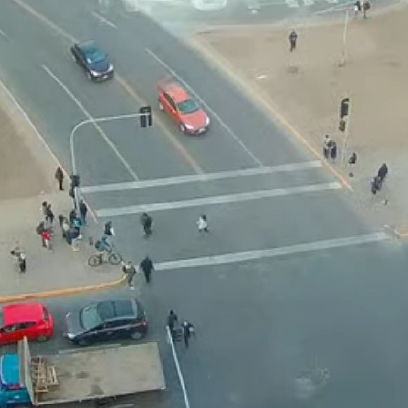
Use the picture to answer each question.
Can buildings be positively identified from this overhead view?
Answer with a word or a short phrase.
No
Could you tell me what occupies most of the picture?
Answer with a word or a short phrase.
paved ground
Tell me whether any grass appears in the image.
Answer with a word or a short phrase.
No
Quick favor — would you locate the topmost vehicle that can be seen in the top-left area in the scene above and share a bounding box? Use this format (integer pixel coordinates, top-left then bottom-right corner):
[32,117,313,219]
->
[72,41,111,77]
